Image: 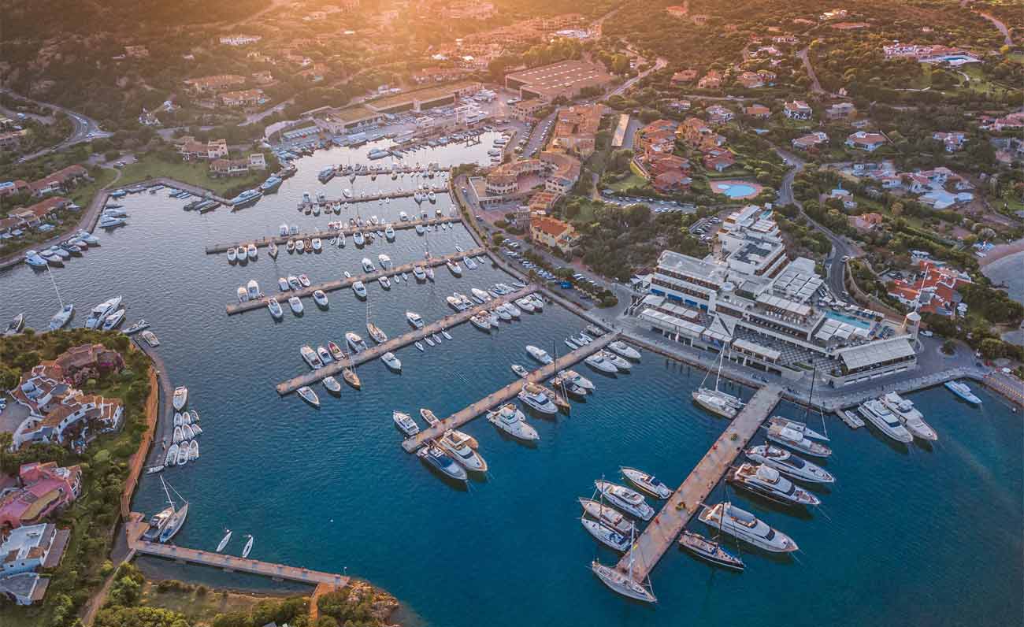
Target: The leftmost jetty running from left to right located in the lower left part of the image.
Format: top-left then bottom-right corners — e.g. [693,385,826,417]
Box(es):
[139,542,342,589]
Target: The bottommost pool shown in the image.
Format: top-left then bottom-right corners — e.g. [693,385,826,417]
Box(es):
[825,310,870,331]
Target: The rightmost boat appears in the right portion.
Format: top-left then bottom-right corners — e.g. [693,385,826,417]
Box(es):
[941,381,981,405]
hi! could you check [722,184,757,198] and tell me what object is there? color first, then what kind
blue swimming pool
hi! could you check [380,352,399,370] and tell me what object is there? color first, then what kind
white boat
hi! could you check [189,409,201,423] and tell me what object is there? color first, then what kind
gray boat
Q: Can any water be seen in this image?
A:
Yes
